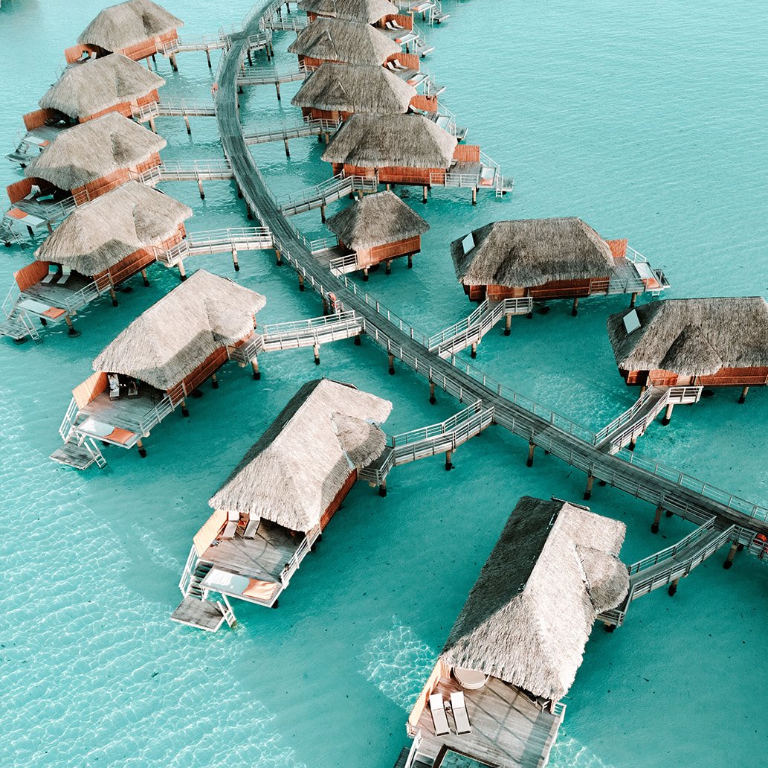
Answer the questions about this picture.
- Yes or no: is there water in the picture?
Yes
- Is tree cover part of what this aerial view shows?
No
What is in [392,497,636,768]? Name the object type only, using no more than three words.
house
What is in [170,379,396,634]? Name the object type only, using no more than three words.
house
